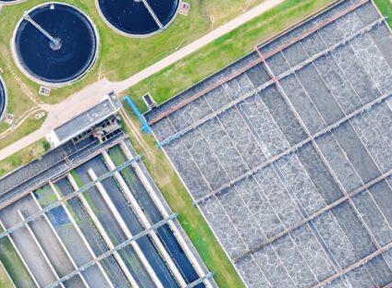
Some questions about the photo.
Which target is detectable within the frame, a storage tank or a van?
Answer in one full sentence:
It is a storage tank that can be seen here.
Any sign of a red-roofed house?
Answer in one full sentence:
No, there isn't any red-roofed house down there.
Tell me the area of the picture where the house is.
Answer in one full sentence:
The house sits in the left section of the image.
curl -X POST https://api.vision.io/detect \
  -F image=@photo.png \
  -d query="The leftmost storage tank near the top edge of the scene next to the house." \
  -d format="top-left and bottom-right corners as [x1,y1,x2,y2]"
[12,1,99,87]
